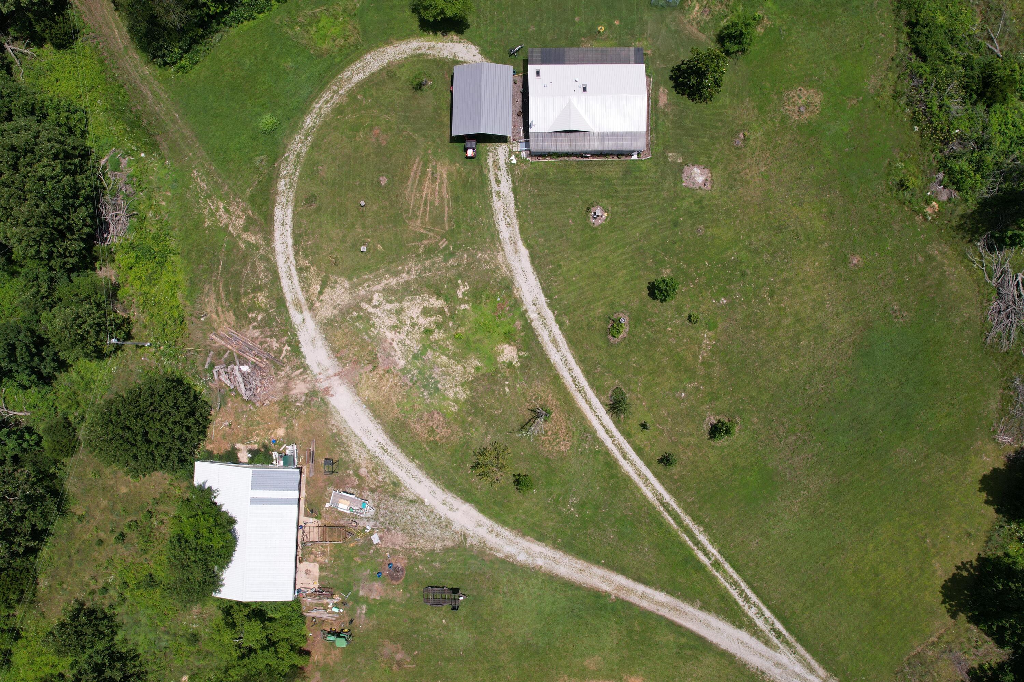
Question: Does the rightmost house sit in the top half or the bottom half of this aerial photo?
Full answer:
The top half of the photo is where the rightmost house is.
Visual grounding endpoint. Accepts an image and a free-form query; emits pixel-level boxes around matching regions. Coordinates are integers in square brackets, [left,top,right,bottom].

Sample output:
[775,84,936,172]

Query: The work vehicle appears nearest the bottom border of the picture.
[323,629,355,647]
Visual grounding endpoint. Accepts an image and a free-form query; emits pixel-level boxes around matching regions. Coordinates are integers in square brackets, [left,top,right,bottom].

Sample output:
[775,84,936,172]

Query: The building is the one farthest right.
[528,47,648,155]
